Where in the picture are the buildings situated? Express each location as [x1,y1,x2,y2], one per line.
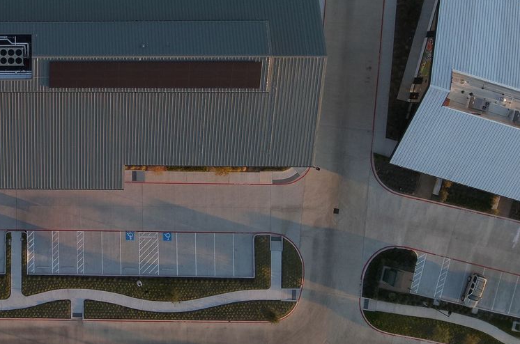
[387,0,520,201]
[0,0,329,191]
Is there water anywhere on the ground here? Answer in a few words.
No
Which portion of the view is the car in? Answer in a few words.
bottom right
